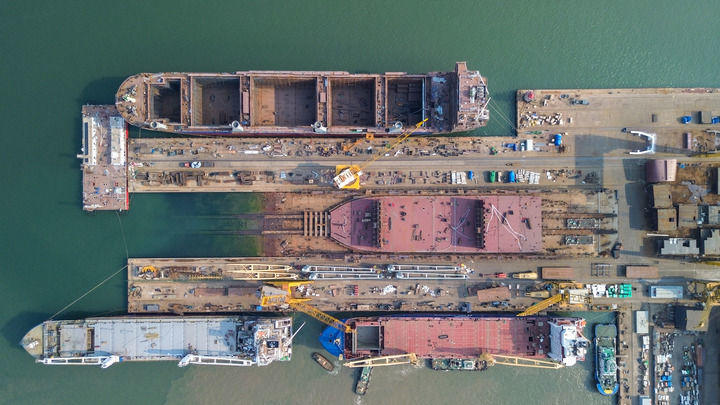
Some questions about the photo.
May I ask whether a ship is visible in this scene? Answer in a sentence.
Yes, the frame does contain a ship.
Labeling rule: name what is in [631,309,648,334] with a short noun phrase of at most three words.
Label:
shed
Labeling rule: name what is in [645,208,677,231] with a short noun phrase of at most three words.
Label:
shed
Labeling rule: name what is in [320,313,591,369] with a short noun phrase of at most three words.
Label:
ship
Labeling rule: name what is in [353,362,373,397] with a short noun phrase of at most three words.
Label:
boat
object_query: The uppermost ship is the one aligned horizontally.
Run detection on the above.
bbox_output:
[115,61,491,136]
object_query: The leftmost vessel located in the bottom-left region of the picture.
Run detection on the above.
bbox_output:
[19,312,306,370]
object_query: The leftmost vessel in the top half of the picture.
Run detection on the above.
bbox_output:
[77,102,134,212]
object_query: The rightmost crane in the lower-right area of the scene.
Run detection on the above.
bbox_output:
[677,281,720,326]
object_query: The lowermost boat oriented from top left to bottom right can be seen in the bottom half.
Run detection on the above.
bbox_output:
[311,352,336,375]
